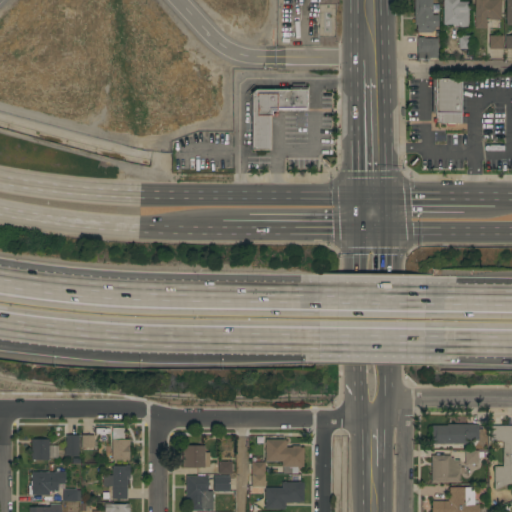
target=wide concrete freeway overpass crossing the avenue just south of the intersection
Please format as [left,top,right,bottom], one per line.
[310,272,440,364]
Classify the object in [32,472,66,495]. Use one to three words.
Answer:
house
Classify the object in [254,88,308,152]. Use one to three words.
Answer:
building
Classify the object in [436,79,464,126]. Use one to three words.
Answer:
building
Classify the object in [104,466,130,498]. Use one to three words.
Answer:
house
